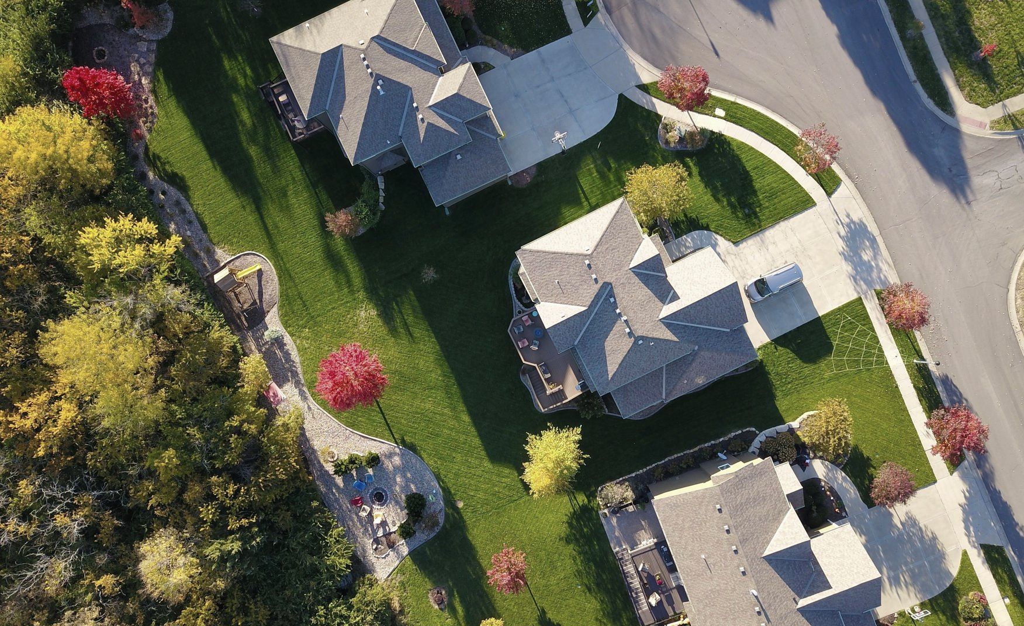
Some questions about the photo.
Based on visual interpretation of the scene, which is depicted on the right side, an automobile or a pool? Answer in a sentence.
It is an automobile that can be seen on the right side.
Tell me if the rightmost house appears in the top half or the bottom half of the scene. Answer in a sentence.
It is in the bottom half that the rightmost house appears.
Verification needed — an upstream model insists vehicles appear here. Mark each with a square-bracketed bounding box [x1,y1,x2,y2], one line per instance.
[744,263,807,302]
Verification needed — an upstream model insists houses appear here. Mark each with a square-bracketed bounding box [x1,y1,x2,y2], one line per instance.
[646,449,882,626]
[268,0,511,212]
[513,196,759,420]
